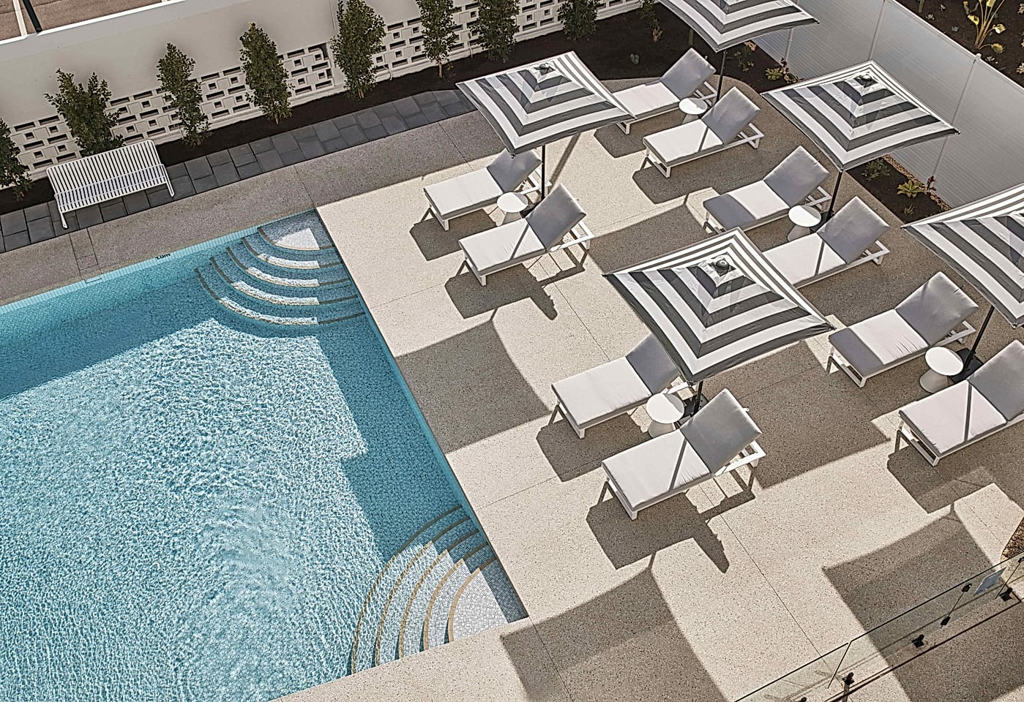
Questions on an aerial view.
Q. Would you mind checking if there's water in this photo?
Yes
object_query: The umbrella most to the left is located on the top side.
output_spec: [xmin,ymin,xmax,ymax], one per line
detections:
[457,49,637,214]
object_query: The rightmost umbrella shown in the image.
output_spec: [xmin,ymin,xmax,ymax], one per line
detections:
[900,179,1024,384]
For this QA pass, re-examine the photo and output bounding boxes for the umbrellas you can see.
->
[900,179,1024,384]
[655,0,821,118]
[457,49,637,214]
[759,60,961,235]
[602,225,837,427]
